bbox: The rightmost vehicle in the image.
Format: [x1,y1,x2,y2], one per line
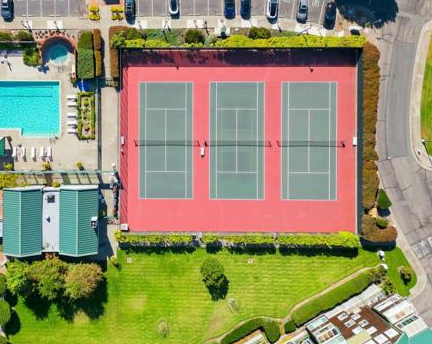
[323,1,338,27]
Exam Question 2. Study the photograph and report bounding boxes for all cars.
[168,0,178,14]
[224,0,236,16]
[0,0,12,18]
[297,0,309,21]
[124,0,136,18]
[323,1,338,27]
[240,0,251,16]
[266,0,278,18]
